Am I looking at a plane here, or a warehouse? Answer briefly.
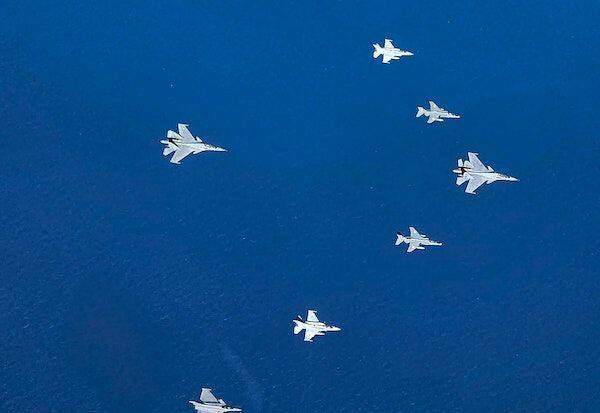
plane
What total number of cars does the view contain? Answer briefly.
none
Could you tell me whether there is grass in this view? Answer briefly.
No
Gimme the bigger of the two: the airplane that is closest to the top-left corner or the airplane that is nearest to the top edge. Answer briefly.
the airplane that is closest to the top-left corner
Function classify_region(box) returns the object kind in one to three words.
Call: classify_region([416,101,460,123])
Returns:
airplane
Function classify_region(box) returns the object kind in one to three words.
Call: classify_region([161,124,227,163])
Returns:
airplane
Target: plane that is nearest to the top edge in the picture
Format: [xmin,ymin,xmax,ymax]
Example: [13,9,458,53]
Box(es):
[373,39,414,64]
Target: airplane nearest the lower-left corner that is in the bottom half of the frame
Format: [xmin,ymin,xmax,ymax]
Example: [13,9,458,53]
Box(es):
[189,388,242,413]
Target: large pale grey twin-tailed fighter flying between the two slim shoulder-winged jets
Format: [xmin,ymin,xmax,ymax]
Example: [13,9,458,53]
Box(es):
[453,153,521,194]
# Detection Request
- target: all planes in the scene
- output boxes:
[189,388,242,413]
[161,124,227,163]
[373,39,414,64]
[453,153,521,194]
[293,310,340,342]
[416,101,460,123]
[395,227,443,252]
